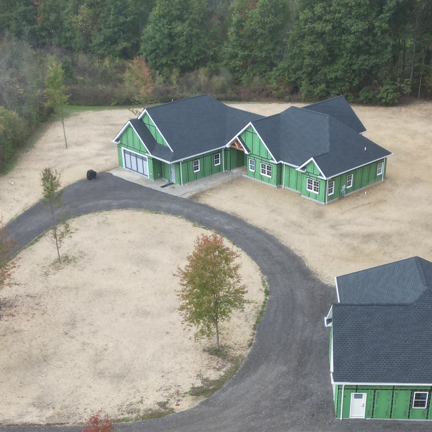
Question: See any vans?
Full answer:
No, the scene contains no van.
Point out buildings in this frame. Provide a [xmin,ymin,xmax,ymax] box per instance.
[112,94,394,203]
[327,256,432,421]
